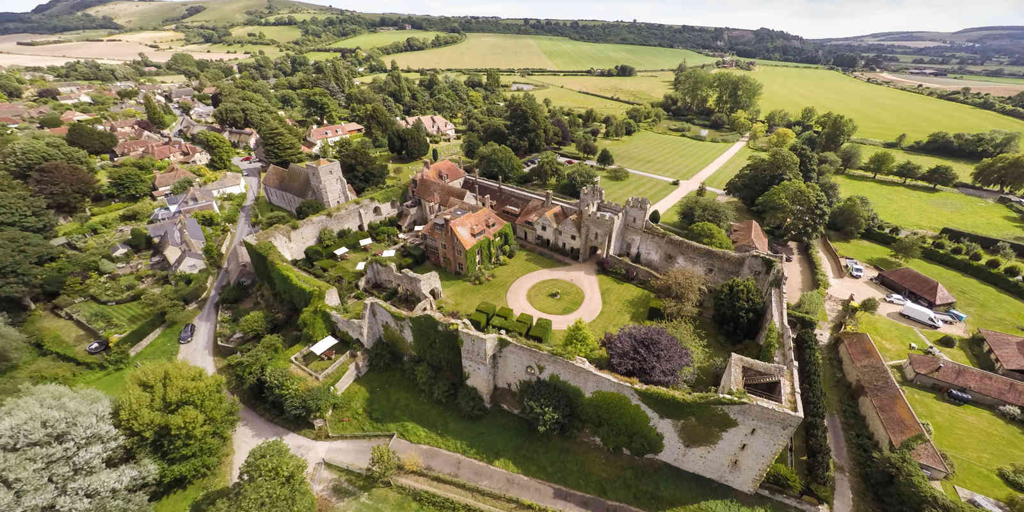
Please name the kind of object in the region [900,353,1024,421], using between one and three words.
barn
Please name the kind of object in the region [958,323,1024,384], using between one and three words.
barn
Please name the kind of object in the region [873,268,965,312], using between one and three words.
shed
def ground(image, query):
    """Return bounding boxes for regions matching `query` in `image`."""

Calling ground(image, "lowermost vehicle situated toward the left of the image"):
[175,320,196,341]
